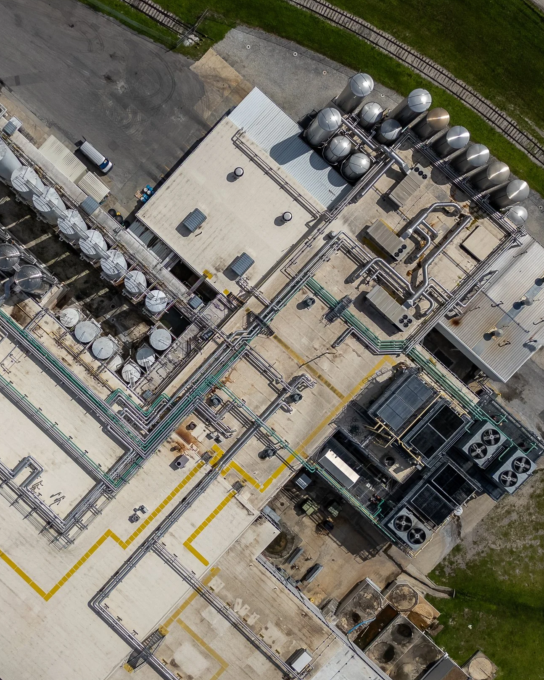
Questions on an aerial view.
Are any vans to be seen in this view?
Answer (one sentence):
Yes, a van appears in the view.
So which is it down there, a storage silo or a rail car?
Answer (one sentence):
Of the two, only a storage silo appears.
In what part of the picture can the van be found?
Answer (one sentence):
The van appears toward the top left of the photo.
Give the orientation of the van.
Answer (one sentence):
In this picture, the van lies at an angle.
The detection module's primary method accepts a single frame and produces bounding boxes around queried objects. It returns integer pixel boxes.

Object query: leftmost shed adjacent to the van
[39,135,88,182]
